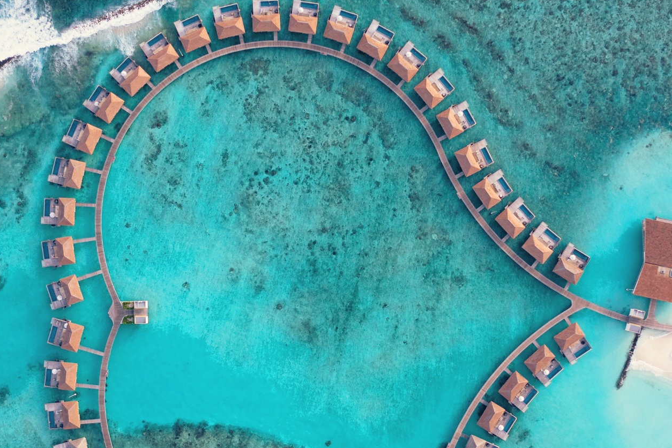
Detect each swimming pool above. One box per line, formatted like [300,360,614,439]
[440,73,456,91]
[180,14,200,26]
[67,119,80,138]
[546,366,564,382]
[219,2,239,13]
[48,409,55,429]
[48,324,59,344]
[574,345,592,361]
[339,8,358,19]
[523,389,540,407]
[463,107,477,126]
[543,226,562,242]
[46,284,58,304]
[519,202,537,219]
[409,46,428,62]
[572,246,590,261]
[503,417,518,435]
[259,0,278,6]
[45,367,51,386]
[51,157,62,177]
[481,144,495,163]
[115,57,132,73]
[42,241,50,261]
[43,199,50,218]
[145,31,163,47]
[299,0,319,8]
[376,23,395,37]
[498,174,514,193]
[87,85,103,103]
